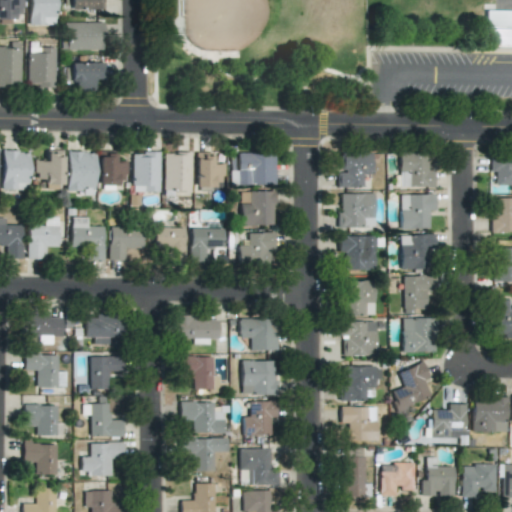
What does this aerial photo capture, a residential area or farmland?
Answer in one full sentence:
This image shows a residential area.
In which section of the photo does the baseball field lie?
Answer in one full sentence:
You can find the baseball field in the top area of the picture.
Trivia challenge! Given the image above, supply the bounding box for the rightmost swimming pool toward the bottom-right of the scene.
[438,448,454,466]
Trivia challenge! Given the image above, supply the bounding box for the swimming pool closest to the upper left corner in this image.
[100,192,122,206]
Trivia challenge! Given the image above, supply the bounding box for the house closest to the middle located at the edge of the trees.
[240,232,278,262]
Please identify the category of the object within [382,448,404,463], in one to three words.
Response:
swimming pool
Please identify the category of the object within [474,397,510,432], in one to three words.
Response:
house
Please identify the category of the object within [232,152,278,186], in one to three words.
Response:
house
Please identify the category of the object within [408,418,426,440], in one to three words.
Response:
swimming pool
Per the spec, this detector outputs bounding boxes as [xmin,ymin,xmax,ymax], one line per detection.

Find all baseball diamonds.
[176,0,362,62]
